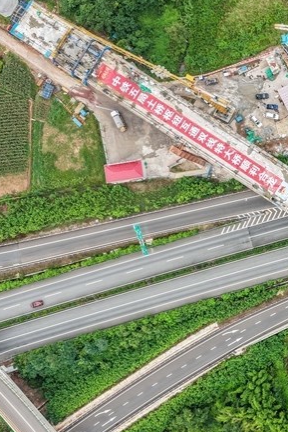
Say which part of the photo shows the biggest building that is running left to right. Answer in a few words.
center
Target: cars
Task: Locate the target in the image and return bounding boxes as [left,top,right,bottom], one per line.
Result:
[250,114,262,127]
[254,92,269,100]
[204,77,218,85]
[264,112,279,120]
[265,103,279,109]
[29,301,43,309]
